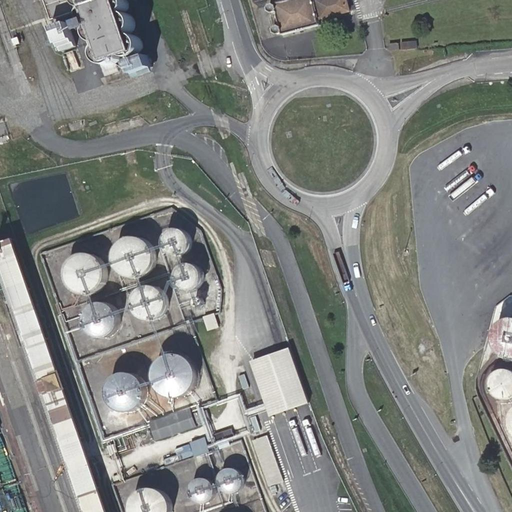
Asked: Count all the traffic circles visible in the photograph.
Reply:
one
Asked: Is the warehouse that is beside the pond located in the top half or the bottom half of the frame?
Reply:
bottom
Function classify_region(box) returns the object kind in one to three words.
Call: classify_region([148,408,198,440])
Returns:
shed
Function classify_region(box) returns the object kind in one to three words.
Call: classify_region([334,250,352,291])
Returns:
vehicle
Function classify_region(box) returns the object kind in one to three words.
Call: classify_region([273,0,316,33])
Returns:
house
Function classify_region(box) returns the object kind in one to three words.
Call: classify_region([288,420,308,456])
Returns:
vehicle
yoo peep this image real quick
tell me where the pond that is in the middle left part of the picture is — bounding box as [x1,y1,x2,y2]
[10,172,82,237]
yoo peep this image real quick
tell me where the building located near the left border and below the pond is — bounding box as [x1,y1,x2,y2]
[0,238,110,512]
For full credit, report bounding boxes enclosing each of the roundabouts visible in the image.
[248,65,399,221]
